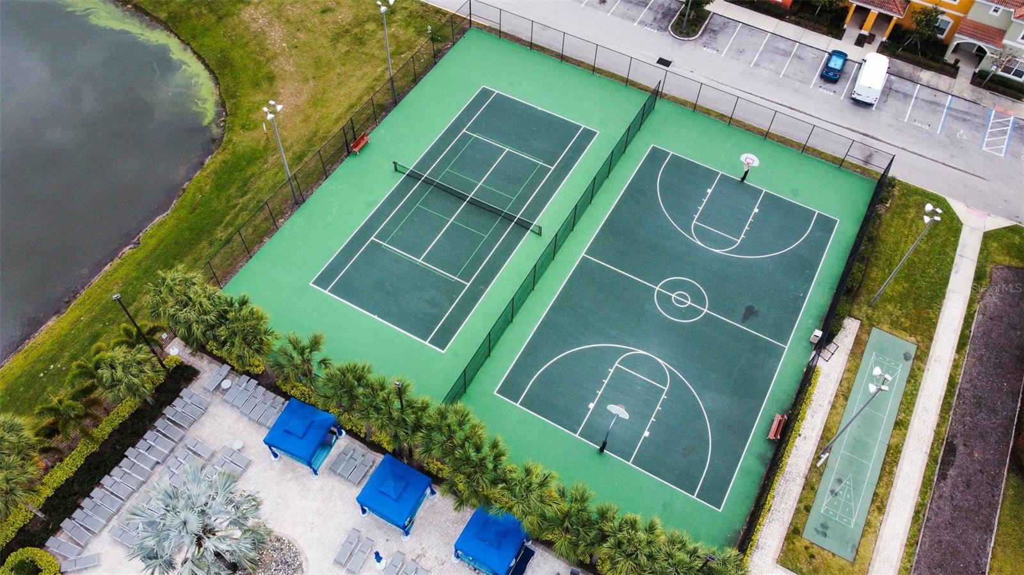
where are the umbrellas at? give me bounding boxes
[374,555,388,574]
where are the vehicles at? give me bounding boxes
[849,55,894,106]
[819,51,850,83]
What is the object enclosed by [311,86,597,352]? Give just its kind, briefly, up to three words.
tennis court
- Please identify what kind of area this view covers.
sports ground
